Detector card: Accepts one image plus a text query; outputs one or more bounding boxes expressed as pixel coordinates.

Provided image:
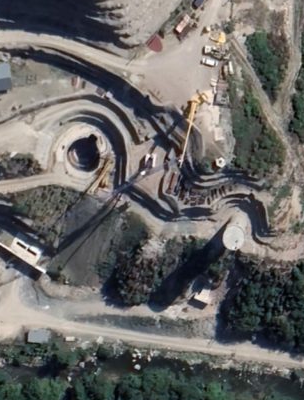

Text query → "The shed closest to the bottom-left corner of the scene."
[27,328,50,345]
